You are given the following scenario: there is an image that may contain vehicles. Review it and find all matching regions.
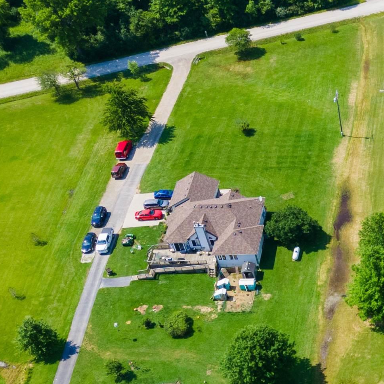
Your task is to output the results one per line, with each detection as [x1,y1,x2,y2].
[109,164,127,180]
[140,196,169,209]
[113,140,132,158]
[133,208,165,221]
[89,204,108,227]
[149,189,172,199]
[78,233,97,253]
[93,227,115,252]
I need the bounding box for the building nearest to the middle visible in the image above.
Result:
[162,170,272,267]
